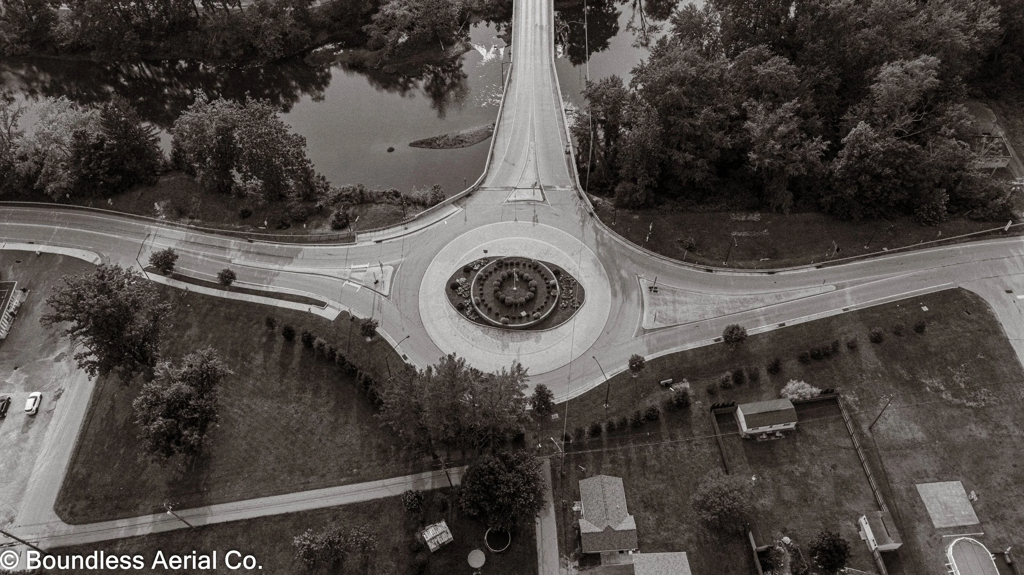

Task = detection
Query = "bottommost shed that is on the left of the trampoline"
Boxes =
[422,520,453,556]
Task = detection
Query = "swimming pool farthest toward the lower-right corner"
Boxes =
[943,537,1002,575]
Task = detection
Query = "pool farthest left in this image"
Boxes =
[483,526,512,558]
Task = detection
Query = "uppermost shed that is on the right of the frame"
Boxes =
[736,399,798,434]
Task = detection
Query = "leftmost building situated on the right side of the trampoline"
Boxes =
[578,474,638,559]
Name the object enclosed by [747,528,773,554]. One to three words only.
shed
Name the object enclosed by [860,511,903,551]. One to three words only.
shed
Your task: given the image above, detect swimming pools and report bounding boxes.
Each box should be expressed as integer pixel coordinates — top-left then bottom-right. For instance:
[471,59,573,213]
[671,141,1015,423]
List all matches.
[483,526,512,558]
[943,537,1002,575]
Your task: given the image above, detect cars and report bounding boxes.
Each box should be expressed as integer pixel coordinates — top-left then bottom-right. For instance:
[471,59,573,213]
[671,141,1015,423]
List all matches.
[21,390,43,415]
[0,393,10,418]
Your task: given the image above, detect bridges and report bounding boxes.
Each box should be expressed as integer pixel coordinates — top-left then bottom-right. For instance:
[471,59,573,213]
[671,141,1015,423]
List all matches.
[474,0,585,191]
